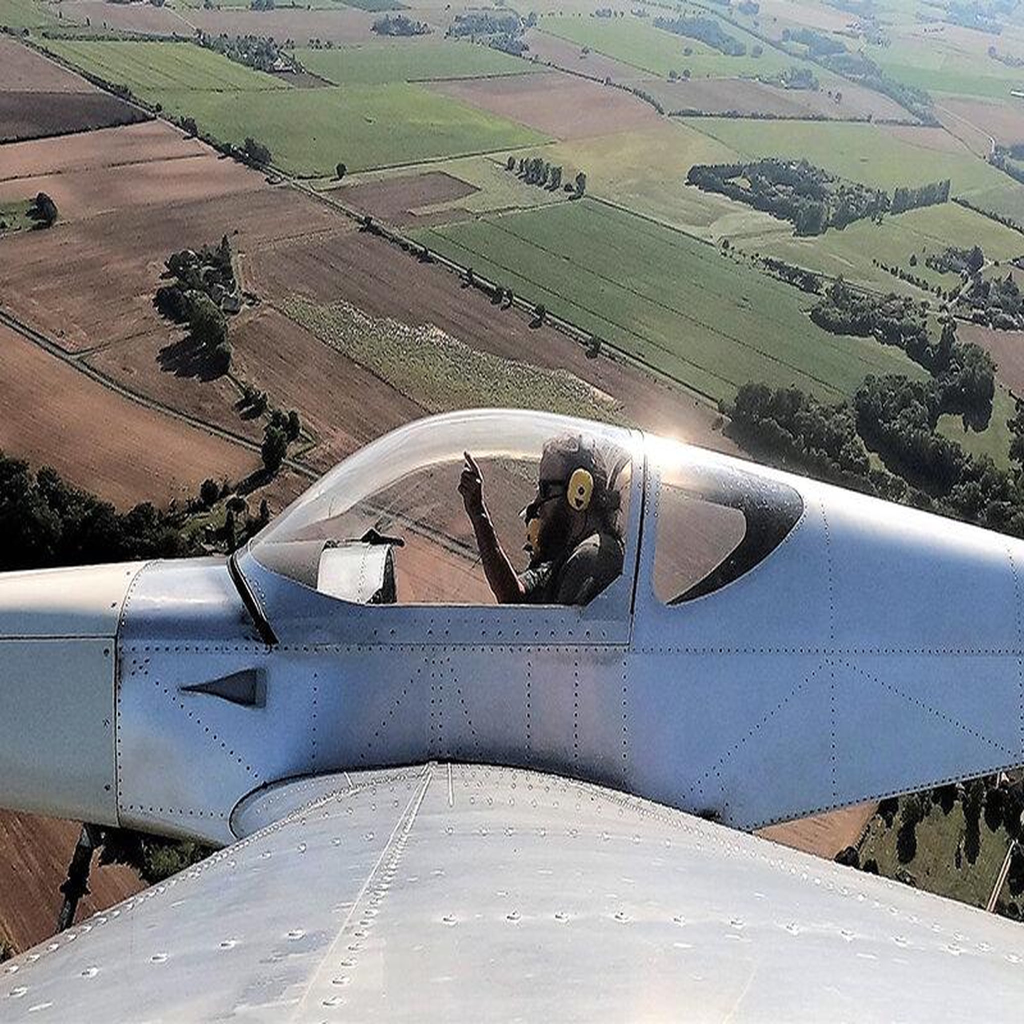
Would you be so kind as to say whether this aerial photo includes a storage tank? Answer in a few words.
No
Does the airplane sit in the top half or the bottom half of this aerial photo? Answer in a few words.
bottom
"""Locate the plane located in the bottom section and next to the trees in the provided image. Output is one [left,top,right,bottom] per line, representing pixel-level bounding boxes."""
[0,411,1024,1024]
